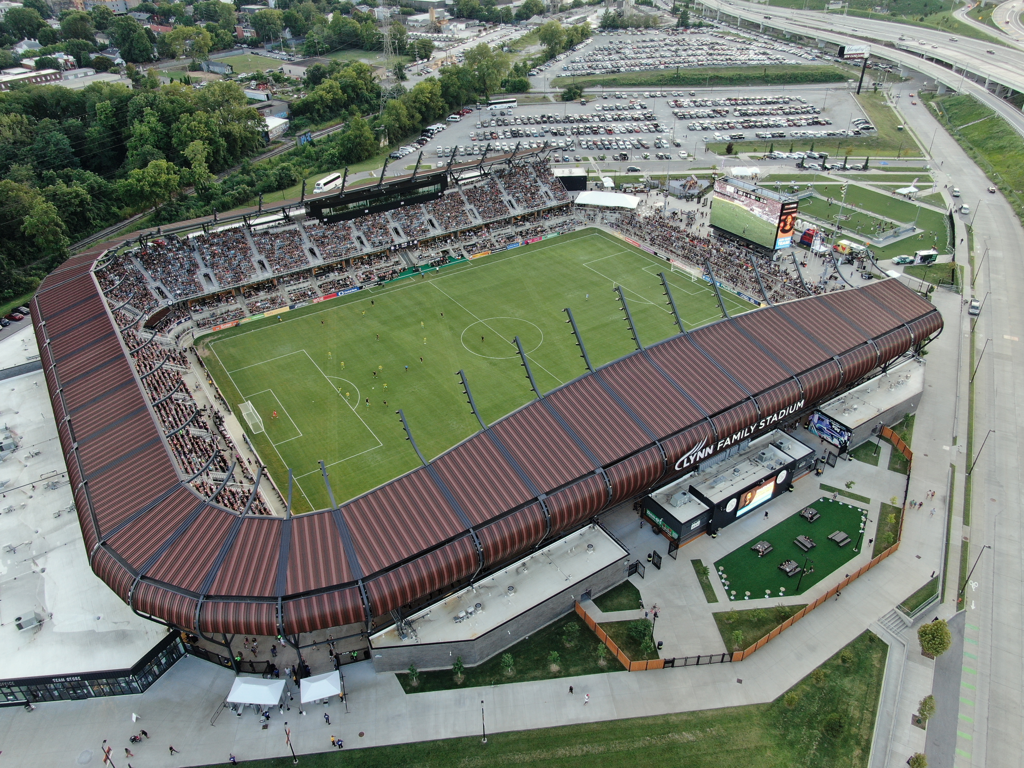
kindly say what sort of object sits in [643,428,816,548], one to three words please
building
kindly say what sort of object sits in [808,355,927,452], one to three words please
building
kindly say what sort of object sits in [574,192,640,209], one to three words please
tent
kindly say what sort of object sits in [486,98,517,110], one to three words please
vehicle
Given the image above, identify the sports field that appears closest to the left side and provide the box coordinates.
[196,232,755,512]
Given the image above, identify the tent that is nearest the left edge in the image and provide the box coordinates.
[227,677,287,717]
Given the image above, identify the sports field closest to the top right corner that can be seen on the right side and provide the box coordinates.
[769,184,950,260]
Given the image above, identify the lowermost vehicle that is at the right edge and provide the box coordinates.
[969,297,982,312]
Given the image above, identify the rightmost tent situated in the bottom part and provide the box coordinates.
[301,671,343,714]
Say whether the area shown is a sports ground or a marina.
sports ground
